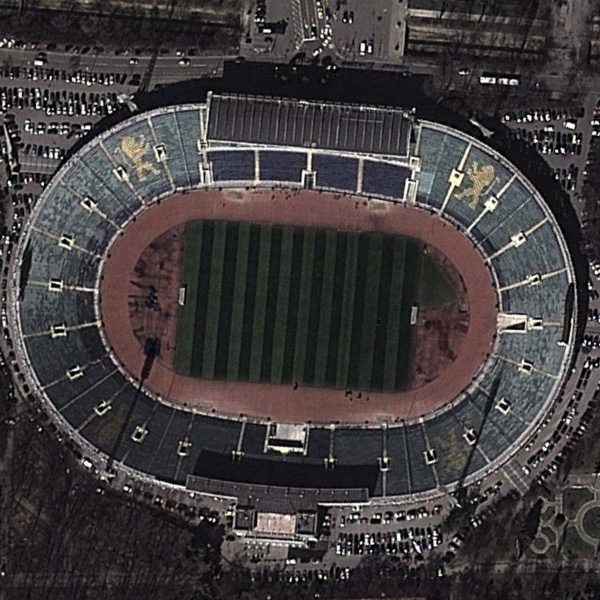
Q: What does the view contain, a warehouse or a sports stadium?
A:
sports stadium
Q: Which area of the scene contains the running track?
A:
center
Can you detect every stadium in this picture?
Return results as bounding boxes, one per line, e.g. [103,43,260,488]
[12,91,578,546]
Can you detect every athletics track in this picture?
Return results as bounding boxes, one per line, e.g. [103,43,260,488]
[99,185,497,424]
